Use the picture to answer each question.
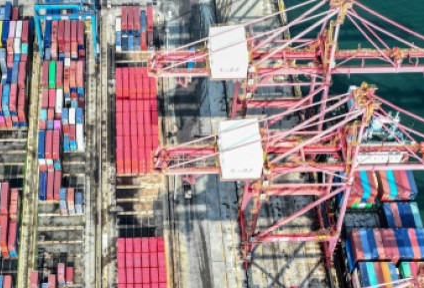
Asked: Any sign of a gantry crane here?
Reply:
Yes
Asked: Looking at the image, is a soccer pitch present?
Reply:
No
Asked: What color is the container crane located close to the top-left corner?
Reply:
blue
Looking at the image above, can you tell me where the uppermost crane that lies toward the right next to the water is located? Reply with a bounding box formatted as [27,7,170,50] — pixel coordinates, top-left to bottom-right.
[148,0,424,169]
